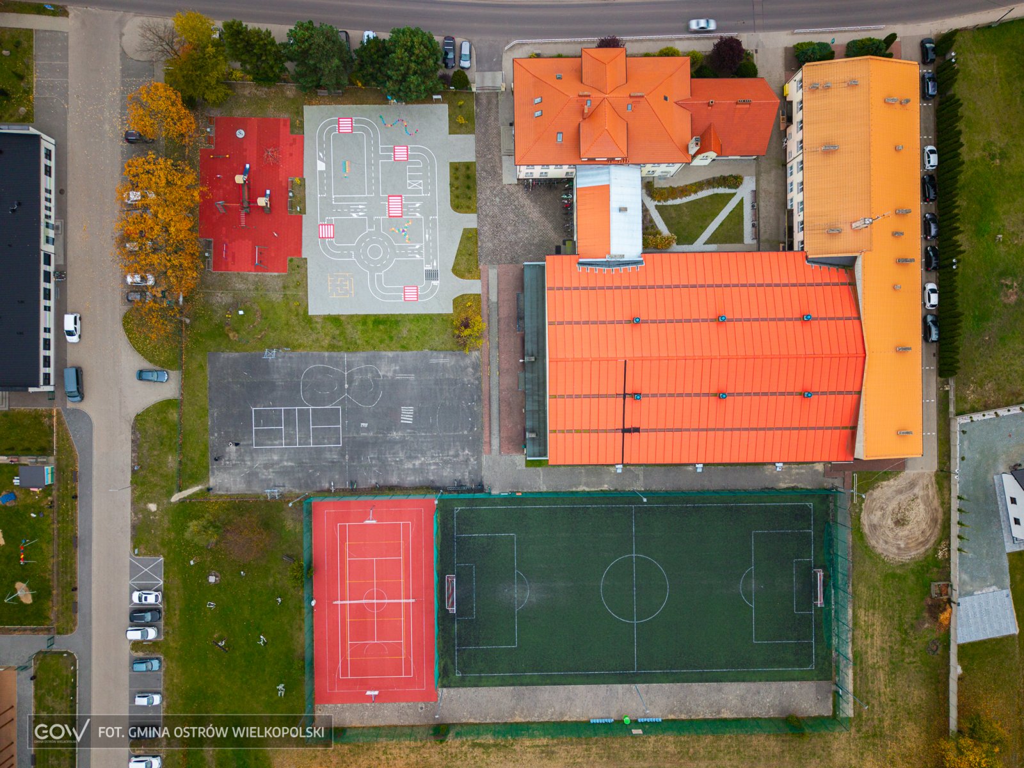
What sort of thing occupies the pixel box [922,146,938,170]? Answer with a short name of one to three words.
car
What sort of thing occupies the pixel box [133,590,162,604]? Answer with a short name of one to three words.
car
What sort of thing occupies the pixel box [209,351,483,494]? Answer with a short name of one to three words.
sports court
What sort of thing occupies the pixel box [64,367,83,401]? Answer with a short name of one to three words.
vehicle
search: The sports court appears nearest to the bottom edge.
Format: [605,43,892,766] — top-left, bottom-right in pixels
[312,500,437,704]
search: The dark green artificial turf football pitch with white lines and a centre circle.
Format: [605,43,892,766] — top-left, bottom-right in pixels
[437,494,833,688]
